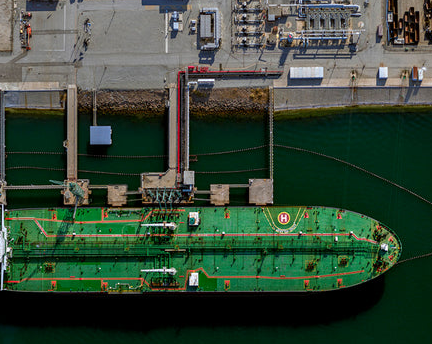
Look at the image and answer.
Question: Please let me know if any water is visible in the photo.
Yes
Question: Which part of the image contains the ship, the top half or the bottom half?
bottom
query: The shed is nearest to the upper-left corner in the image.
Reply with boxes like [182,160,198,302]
[90,125,113,145]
